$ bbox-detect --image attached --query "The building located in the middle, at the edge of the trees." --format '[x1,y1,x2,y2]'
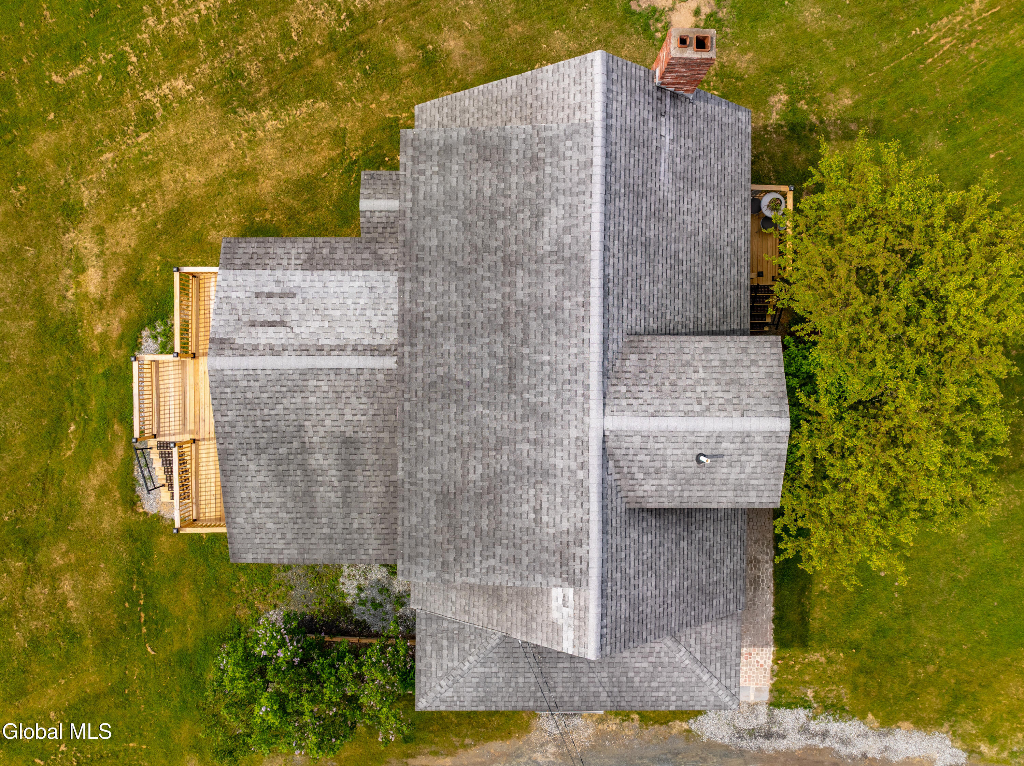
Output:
[207,27,791,714]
